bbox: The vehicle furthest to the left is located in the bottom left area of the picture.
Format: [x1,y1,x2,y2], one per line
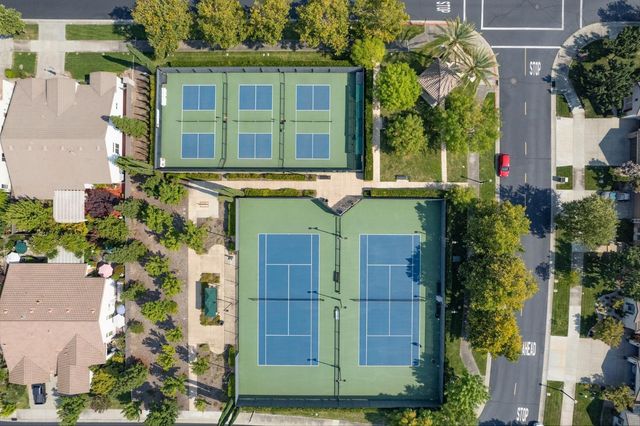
[31,384,48,405]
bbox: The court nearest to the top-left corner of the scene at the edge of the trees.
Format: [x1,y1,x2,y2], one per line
[161,72,228,170]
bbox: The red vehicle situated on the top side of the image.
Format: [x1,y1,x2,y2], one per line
[496,154,509,177]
